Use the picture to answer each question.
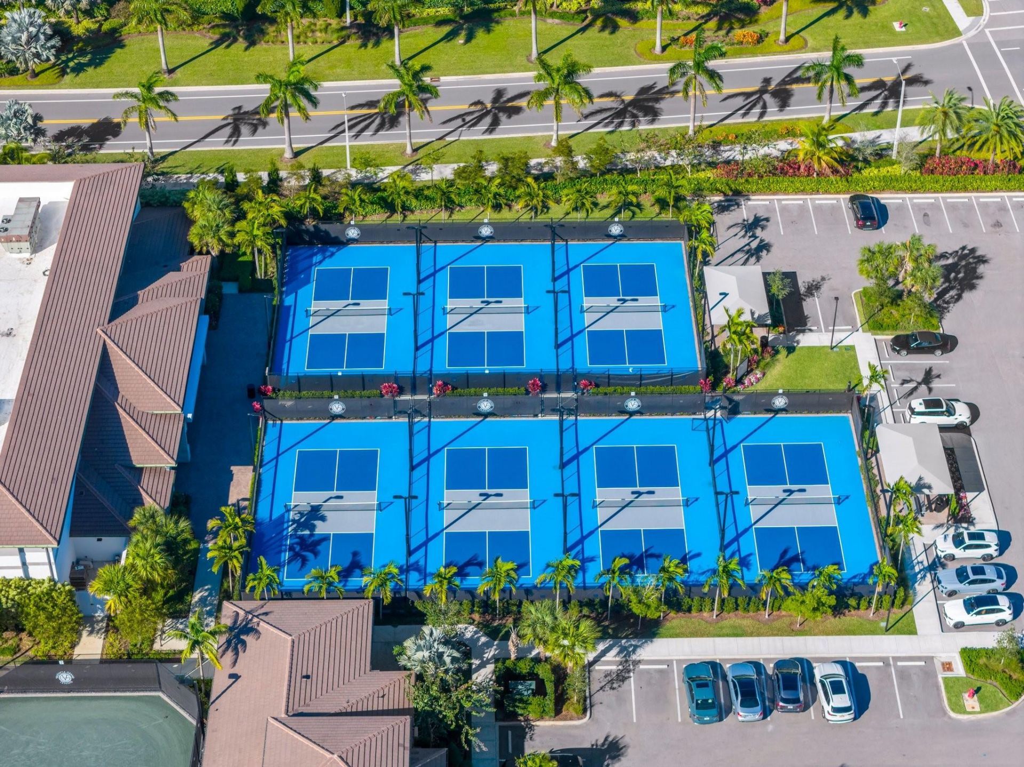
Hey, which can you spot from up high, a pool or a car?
car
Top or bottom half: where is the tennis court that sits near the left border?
bottom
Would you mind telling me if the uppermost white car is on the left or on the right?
right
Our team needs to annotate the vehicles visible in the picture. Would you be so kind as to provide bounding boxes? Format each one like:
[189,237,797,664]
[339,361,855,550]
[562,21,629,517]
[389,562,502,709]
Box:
[887,329,951,357]
[815,663,854,724]
[848,193,877,230]
[932,529,1003,562]
[934,563,1007,597]
[907,398,975,430]
[685,663,720,723]
[940,593,1017,628]
[728,661,762,722]
[526,751,600,767]
[767,653,803,712]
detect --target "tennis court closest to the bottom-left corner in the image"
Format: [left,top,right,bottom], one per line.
[0,691,202,767]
